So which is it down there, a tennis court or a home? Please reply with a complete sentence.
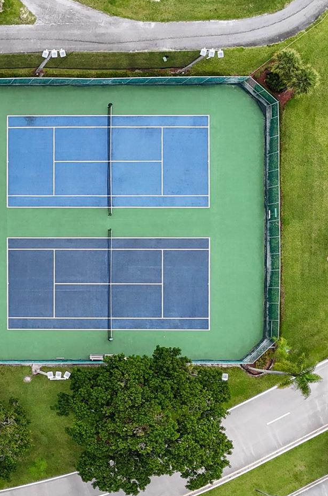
This aerial view contains a tennis court.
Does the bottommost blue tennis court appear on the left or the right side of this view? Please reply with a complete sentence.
The bottommost blue tennis court sits on the left side.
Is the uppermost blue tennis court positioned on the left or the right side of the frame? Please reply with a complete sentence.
The uppermost blue tennis court sits on the left side.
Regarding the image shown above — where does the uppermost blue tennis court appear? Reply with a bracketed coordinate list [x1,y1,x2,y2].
[7,116,209,208]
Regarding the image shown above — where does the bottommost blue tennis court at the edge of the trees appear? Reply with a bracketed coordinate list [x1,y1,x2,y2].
[7,238,210,330]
